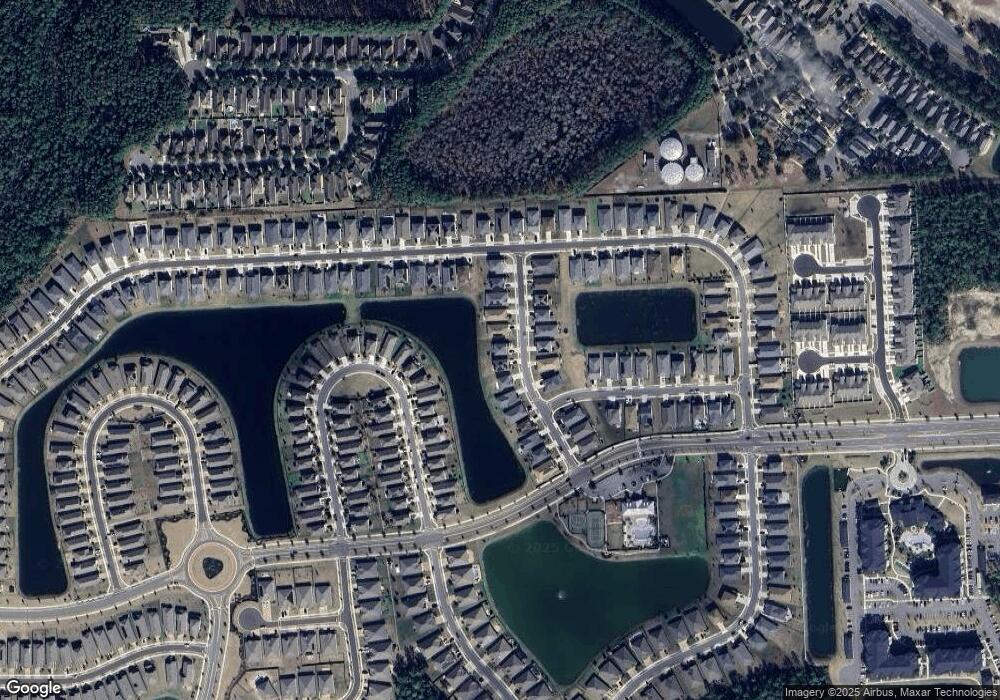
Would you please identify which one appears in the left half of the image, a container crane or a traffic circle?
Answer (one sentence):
It is a traffic circle that can be seen in the left half of the image.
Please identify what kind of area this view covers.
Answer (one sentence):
The picture captures a residential area.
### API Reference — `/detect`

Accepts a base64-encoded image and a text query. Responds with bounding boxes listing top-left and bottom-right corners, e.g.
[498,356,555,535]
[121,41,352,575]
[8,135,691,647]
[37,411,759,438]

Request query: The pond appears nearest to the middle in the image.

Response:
[576,287,697,347]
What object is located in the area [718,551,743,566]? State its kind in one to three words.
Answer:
house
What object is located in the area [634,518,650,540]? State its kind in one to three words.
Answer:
swimming pool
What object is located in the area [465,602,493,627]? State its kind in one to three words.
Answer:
house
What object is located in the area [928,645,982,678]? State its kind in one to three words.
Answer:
building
